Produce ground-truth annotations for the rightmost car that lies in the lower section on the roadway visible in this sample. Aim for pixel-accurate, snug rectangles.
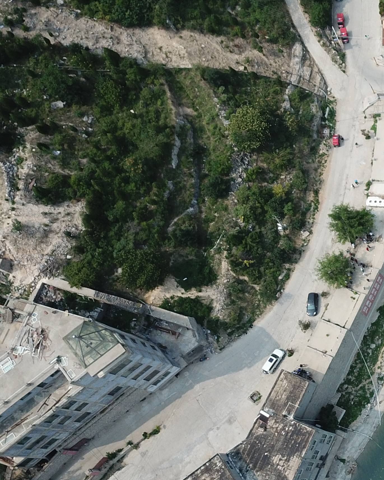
[305,292,319,318]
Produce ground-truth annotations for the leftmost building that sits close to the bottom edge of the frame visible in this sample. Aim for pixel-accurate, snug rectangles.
[0,305,179,478]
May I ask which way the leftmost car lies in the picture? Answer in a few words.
on a diagonal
